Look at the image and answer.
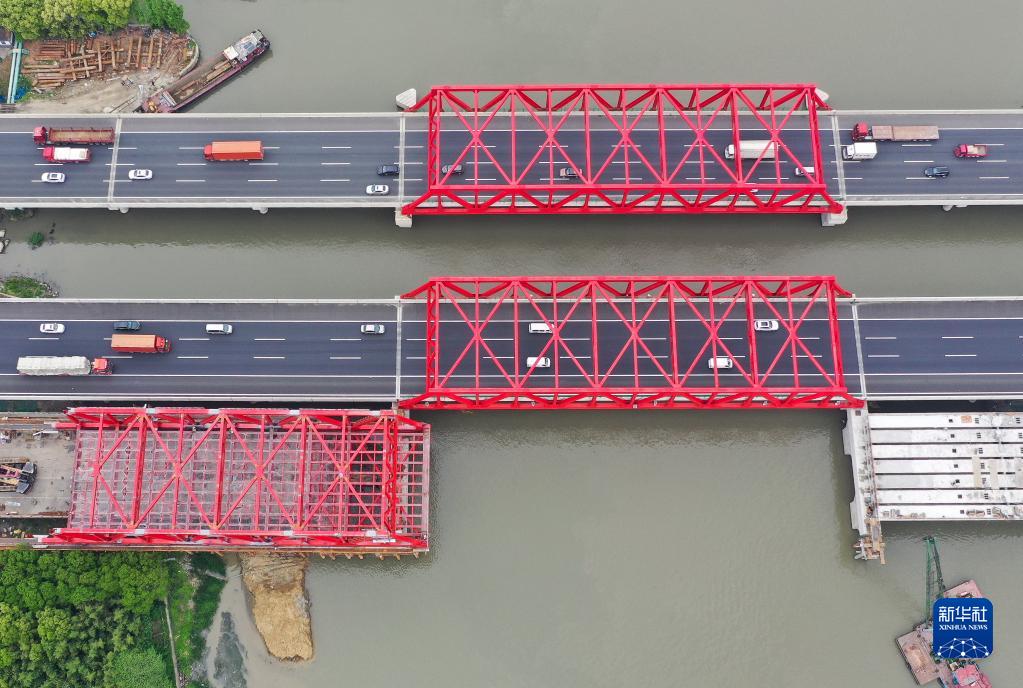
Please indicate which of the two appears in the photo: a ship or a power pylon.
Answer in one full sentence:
The image shows a ship.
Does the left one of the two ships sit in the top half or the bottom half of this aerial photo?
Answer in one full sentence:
The left one of the two ships is in the top half of the image.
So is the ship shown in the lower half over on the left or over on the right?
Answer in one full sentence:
It is on the right.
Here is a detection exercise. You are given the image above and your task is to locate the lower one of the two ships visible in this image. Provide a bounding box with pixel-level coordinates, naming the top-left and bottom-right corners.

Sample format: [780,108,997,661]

[893,532,997,688]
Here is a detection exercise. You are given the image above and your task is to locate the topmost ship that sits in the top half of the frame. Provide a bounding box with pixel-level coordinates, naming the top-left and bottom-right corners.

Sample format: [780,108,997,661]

[132,28,272,114]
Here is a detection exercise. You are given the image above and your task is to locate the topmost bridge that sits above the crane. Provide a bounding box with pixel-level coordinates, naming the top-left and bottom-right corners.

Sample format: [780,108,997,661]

[0,84,1023,226]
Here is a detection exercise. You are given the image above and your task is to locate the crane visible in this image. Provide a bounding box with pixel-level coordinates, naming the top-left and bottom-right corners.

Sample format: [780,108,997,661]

[0,460,37,496]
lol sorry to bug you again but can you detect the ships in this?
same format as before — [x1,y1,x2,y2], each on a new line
[893,532,997,688]
[132,28,272,114]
